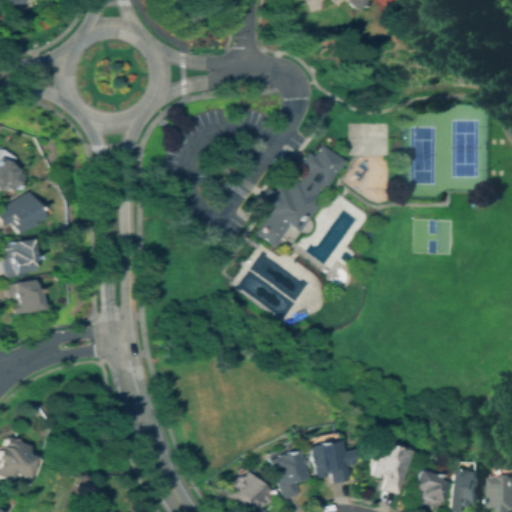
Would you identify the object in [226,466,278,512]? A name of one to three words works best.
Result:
house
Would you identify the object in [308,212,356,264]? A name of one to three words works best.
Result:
swimming pool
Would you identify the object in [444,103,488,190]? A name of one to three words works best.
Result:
tennis court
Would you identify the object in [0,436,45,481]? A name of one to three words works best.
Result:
house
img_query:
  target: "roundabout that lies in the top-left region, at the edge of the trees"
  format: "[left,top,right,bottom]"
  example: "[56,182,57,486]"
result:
[56,18,170,132]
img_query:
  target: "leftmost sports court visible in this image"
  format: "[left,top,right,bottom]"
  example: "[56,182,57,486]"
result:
[348,124,388,157]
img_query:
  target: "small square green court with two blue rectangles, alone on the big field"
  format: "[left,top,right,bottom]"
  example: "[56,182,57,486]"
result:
[412,218,452,255]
